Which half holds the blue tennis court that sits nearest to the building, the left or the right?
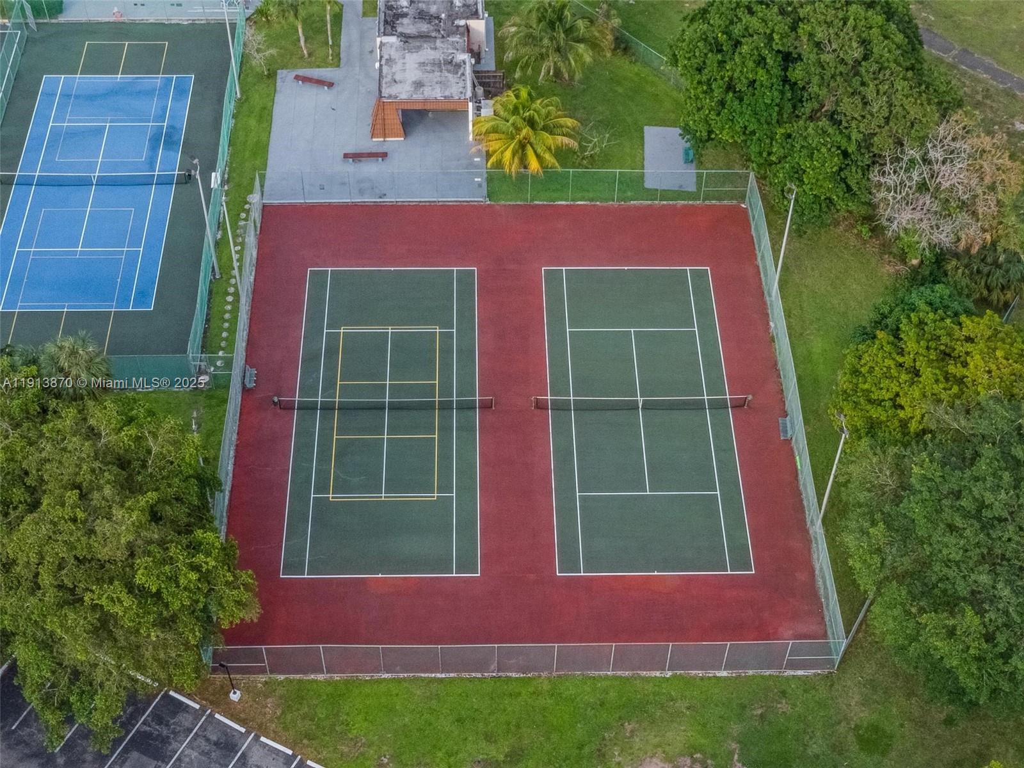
left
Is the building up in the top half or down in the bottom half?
top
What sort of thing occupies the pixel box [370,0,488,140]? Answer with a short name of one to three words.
building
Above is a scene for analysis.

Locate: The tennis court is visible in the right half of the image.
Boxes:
[542,267,755,574]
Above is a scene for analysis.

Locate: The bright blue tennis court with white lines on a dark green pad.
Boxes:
[0,22,238,386]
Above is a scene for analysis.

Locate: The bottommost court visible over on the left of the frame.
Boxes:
[280,268,480,577]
